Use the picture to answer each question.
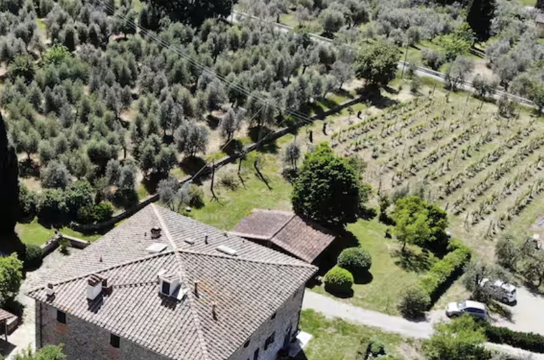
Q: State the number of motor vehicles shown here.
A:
2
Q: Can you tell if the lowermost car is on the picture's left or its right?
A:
right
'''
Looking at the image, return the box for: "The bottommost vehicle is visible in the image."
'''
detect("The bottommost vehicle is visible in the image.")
[447,299,493,322]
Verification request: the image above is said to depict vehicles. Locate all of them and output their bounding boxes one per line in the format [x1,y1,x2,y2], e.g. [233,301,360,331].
[447,299,493,322]
[479,280,523,304]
